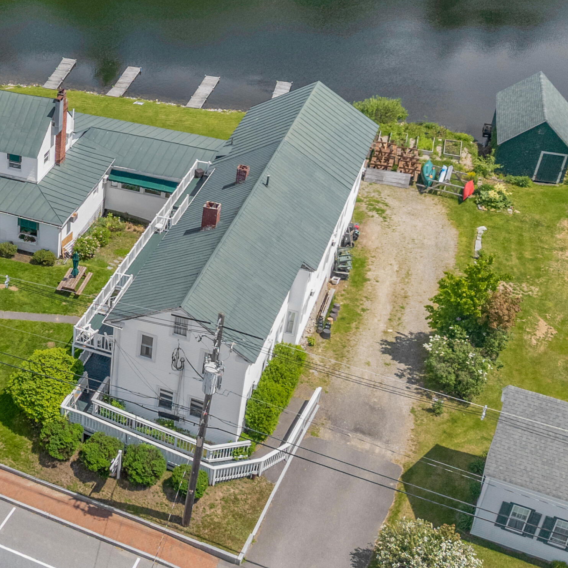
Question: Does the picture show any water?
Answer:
Yes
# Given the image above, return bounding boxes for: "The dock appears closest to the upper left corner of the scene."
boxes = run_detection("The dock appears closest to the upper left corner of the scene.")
[43,57,76,89]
